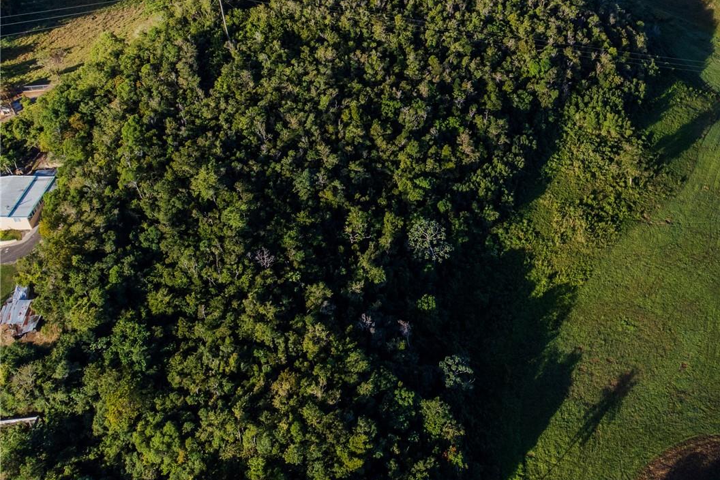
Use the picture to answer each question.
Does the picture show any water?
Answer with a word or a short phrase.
No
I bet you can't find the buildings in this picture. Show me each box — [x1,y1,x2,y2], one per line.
[0,170,58,231]
[0,281,36,337]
